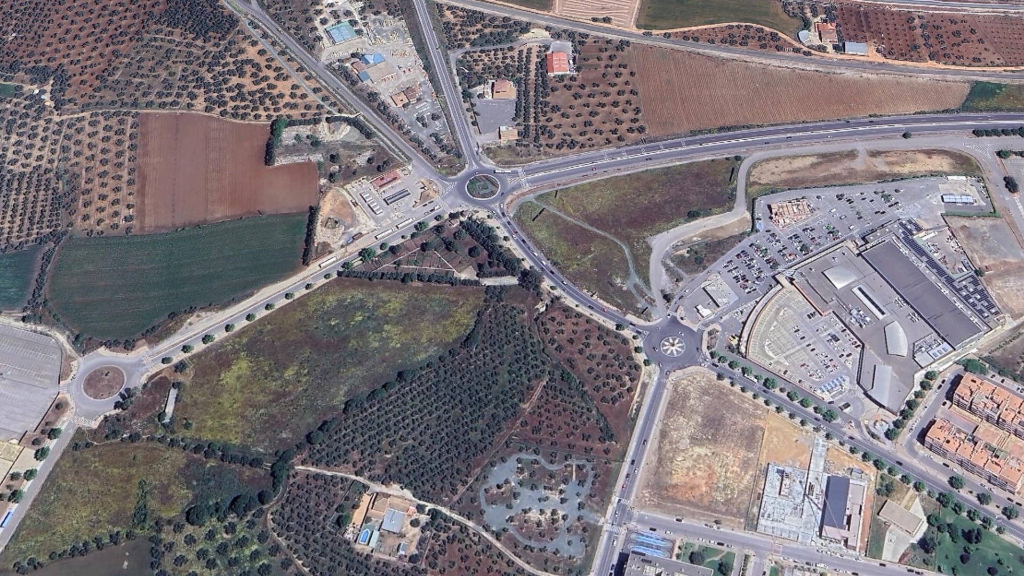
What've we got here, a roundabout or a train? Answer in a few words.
roundabout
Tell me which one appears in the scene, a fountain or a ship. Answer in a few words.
fountain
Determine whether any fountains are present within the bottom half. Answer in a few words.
Yes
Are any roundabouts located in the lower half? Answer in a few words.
Yes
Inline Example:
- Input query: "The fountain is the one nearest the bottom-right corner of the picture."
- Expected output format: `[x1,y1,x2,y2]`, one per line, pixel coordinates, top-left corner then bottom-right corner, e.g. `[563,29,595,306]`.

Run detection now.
[867,414,893,439]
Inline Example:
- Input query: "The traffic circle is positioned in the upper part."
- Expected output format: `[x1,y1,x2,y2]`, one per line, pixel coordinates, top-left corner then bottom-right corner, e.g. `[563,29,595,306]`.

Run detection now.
[439,158,539,210]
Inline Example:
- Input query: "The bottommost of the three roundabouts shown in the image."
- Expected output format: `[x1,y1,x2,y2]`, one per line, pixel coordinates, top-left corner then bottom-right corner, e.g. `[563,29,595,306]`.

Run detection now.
[71,356,137,410]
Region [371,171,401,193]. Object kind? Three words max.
building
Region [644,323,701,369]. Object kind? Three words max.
roundabout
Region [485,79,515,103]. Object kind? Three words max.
house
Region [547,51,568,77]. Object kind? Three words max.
shed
